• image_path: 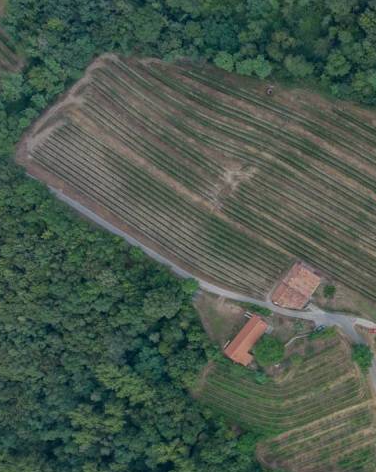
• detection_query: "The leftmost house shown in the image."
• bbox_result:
[225,314,269,368]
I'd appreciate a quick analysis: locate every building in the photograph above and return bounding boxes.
[225,314,269,368]
[276,260,320,311]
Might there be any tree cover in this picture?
Yes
